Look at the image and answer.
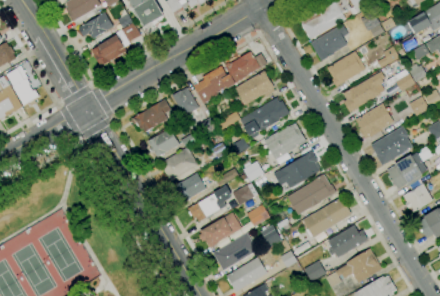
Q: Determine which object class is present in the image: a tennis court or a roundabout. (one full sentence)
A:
It is a tennis court that can be seen here.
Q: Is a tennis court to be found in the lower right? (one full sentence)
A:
No, there is no tennis court in the lower right.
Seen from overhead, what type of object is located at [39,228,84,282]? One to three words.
tennis court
